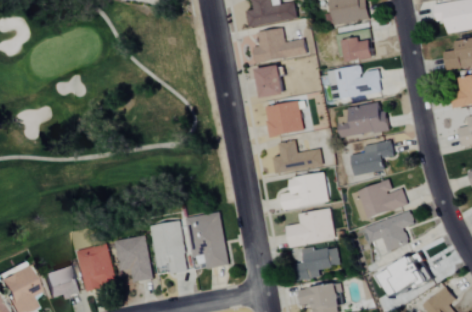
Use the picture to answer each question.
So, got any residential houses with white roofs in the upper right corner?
Yes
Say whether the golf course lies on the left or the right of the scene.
left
